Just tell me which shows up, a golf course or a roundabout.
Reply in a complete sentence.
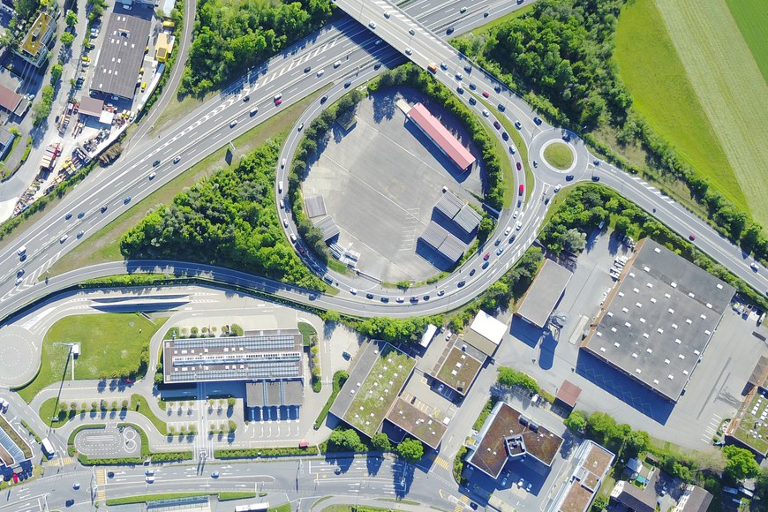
There is a roundabout in the scene.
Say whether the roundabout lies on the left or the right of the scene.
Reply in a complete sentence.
You can find the roundabout on the right side of the picture.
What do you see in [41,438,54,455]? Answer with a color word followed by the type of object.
white vehicle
